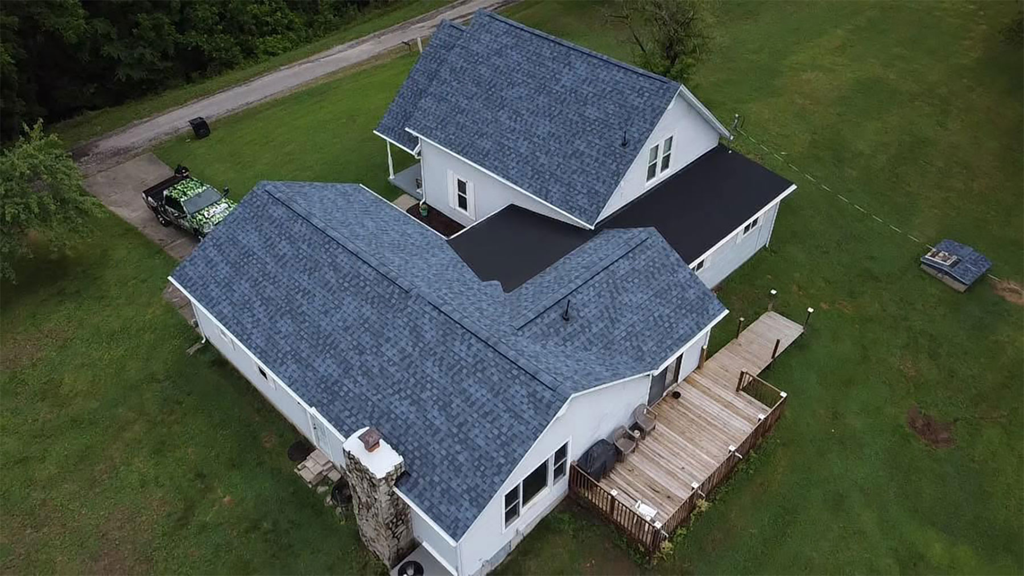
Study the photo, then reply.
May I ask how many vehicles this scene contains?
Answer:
1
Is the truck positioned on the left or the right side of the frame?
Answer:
left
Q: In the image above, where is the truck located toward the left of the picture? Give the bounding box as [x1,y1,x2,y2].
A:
[139,178,233,244]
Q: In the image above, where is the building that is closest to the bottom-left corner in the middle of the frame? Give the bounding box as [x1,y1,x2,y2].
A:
[164,8,800,576]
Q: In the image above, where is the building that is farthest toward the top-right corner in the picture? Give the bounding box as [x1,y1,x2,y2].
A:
[914,241,995,294]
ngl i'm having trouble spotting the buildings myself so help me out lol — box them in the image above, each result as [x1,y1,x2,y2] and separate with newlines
[914,241,995,294]
[164,8,800,576]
